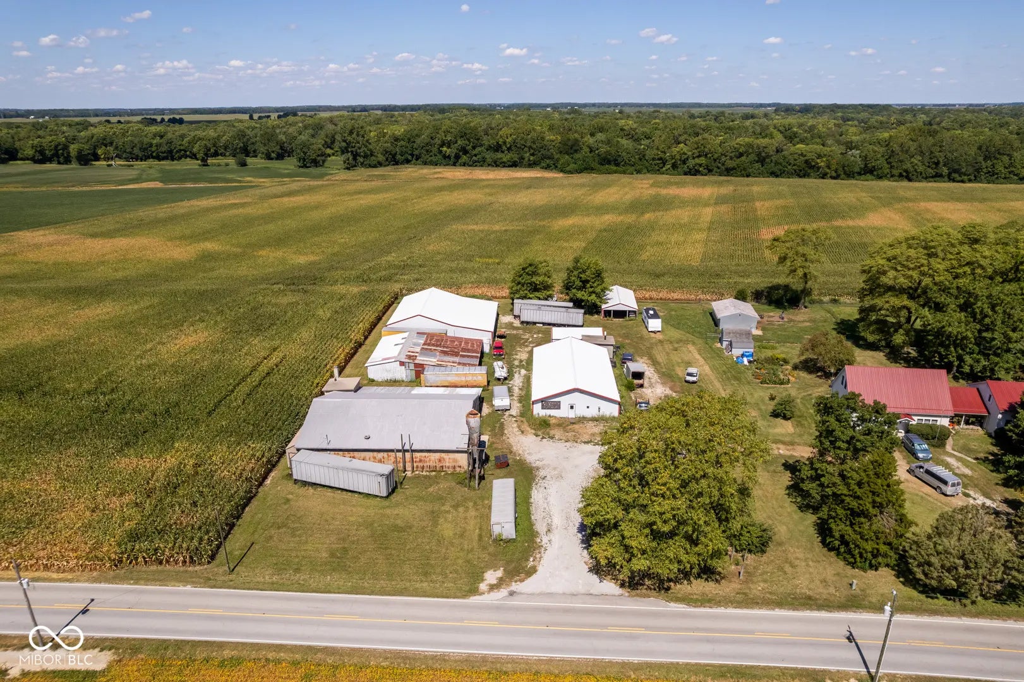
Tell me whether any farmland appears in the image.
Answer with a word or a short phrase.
Yes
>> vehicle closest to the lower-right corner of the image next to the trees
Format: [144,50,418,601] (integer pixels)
[906,463,965,497]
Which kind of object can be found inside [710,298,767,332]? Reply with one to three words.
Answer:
building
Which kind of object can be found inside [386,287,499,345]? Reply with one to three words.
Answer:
barn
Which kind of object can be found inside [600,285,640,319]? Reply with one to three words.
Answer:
shed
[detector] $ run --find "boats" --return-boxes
[491,356,507,379]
